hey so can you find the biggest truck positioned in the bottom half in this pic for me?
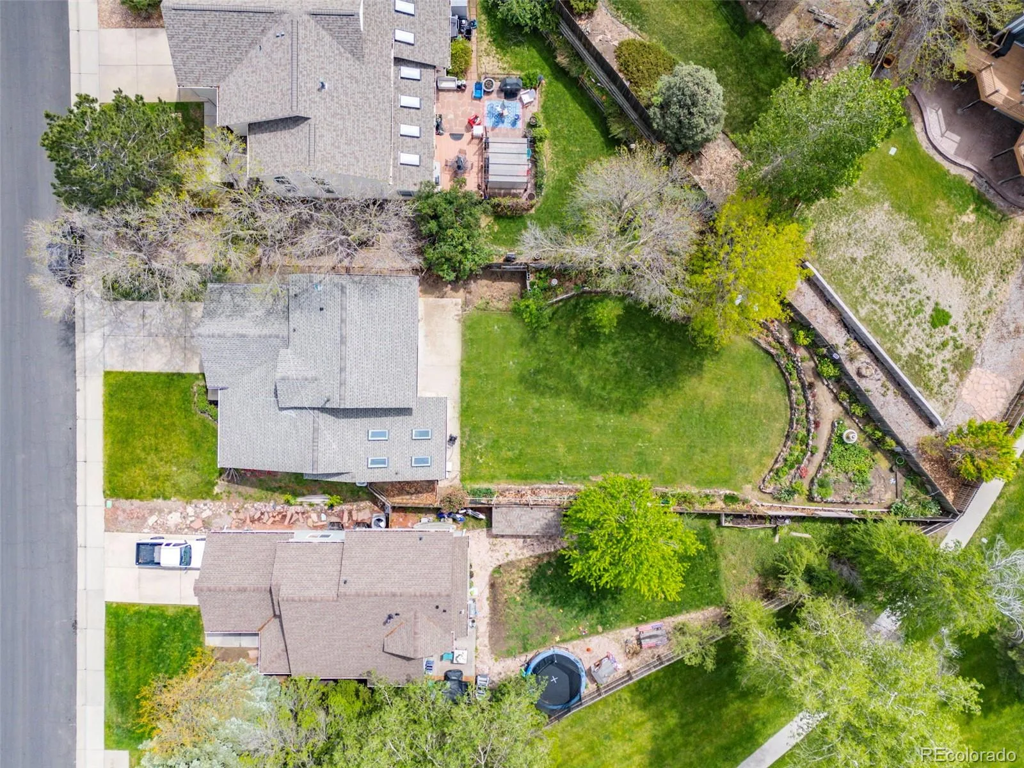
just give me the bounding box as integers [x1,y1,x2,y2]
[136,533,206,567]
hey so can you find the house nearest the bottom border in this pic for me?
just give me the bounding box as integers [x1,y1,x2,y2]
[192,527,471,688]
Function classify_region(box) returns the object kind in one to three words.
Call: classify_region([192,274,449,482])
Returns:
house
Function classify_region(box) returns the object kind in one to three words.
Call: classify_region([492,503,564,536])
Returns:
shed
